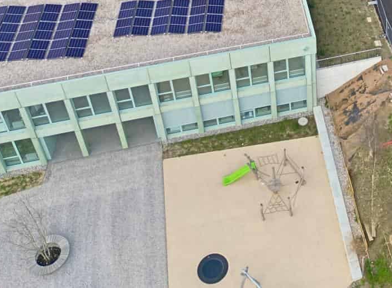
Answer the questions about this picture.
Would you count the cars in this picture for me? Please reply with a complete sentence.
The count of cars is 0.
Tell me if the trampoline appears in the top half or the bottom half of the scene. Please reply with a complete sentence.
The trampoline sits in the bottom half of the picture.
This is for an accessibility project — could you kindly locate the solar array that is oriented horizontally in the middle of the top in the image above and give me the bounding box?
[112,0,224,40]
